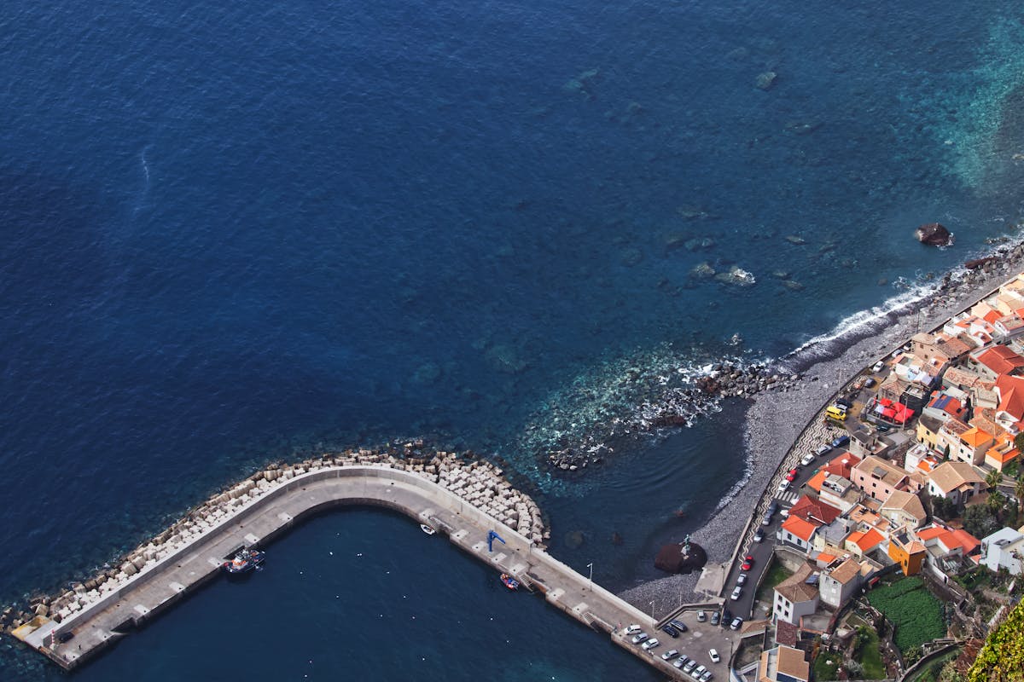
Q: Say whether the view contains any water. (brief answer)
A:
Yes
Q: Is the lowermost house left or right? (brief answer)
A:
right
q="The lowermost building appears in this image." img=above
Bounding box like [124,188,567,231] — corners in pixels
[759,642,808,682]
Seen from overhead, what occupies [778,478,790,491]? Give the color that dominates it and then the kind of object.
white vehicle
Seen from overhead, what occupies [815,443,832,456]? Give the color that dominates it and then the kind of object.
gray vehicle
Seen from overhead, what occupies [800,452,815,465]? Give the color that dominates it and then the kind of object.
white vehicle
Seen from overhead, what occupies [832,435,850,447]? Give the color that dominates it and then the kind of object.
blue vehicle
